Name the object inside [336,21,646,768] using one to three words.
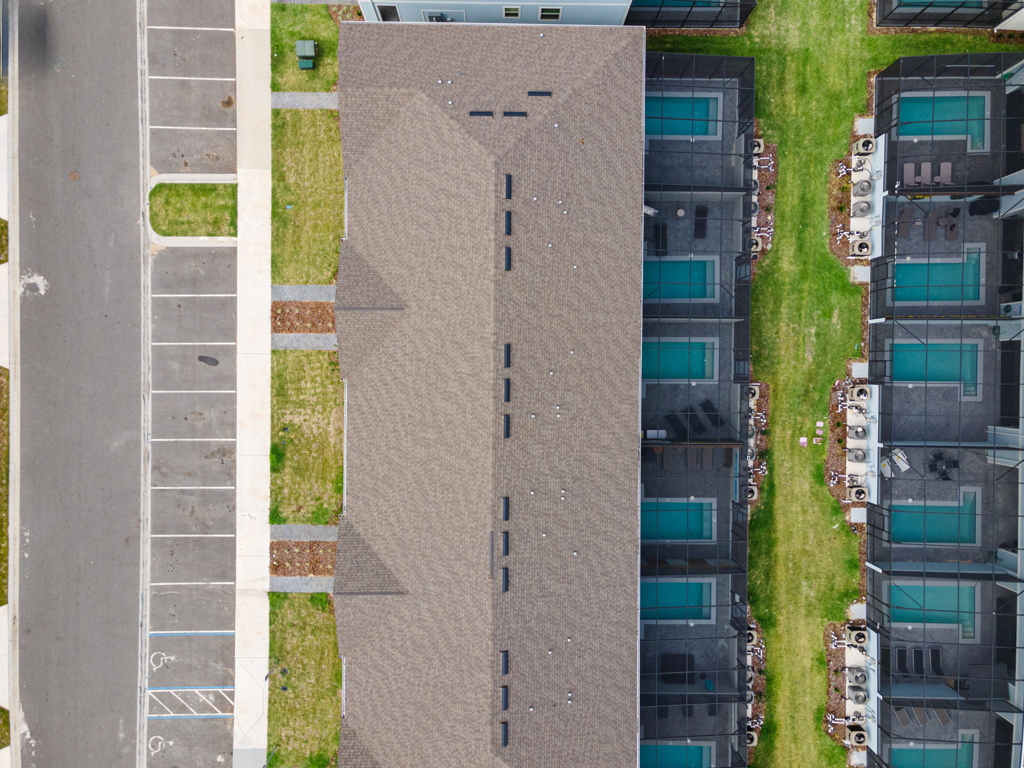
house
